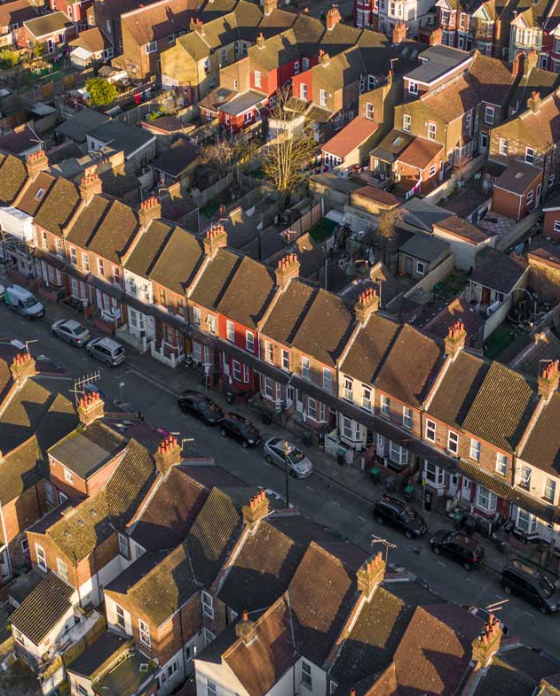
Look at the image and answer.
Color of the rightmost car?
black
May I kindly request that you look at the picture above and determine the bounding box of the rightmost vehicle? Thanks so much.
[492,557,560,613]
